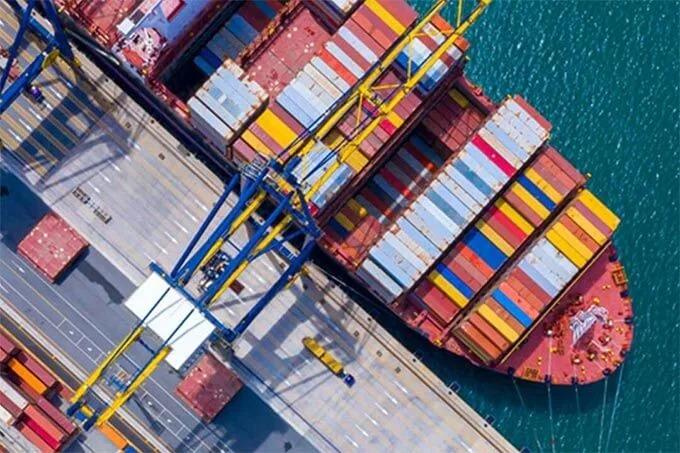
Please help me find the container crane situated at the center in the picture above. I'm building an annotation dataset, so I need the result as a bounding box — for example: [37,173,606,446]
[60,0,491,437]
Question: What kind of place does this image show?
port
